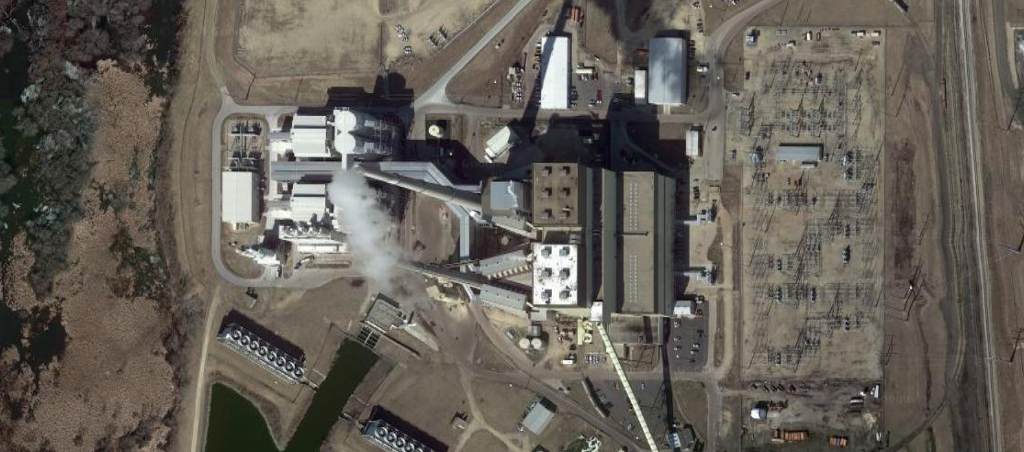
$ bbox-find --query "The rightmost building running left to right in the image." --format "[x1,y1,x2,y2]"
[775,144,823,166]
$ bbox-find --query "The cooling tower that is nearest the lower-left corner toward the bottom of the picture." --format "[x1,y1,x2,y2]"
[220,320,322,389]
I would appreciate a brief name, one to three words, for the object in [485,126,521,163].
house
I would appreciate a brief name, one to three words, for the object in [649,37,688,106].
building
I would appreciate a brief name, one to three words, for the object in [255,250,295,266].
shed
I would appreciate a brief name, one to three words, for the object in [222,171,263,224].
building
